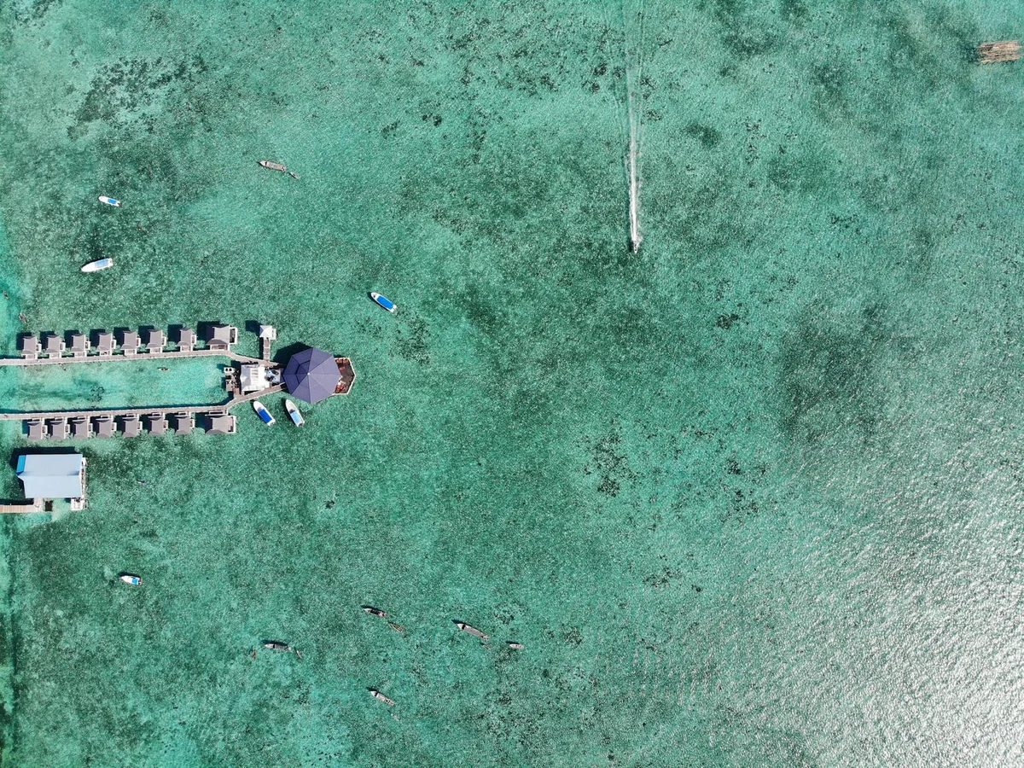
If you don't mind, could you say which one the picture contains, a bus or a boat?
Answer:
boat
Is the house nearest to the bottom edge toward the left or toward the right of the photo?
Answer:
left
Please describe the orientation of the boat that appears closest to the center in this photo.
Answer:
diagonally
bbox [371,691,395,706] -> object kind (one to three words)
boat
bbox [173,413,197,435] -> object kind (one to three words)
house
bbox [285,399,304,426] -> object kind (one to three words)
boat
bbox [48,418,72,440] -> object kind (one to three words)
house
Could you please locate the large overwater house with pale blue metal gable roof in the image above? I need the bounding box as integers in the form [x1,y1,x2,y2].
[15,454,94,510]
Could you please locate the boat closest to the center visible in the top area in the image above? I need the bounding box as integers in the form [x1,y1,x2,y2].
[370,291,396,312]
